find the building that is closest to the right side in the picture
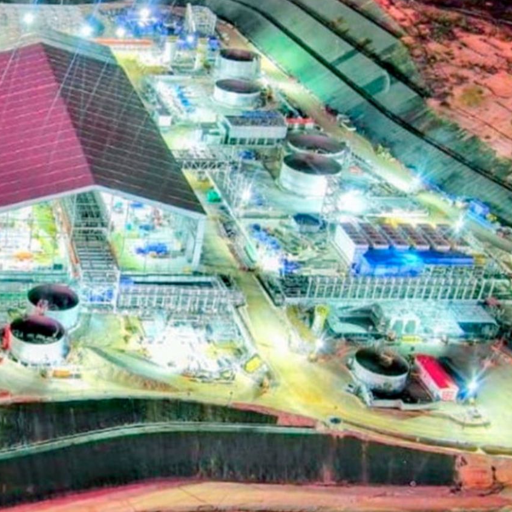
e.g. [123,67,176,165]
[454,304,505,337]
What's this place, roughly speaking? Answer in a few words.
industrial area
